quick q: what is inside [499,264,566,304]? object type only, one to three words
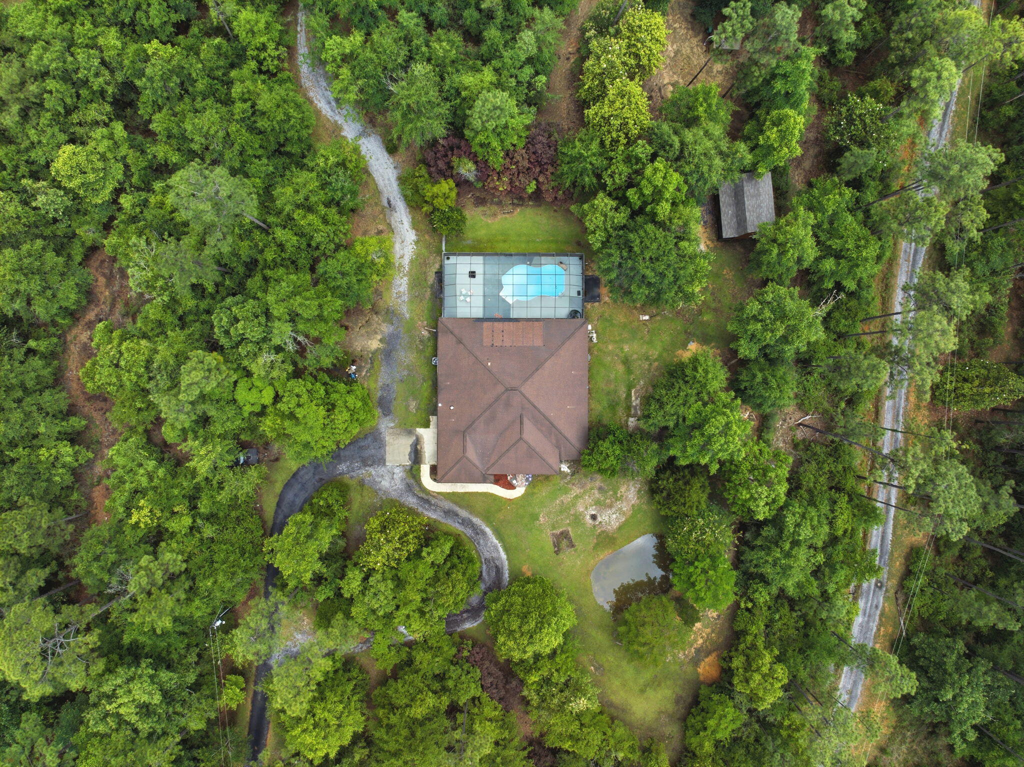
swimming pool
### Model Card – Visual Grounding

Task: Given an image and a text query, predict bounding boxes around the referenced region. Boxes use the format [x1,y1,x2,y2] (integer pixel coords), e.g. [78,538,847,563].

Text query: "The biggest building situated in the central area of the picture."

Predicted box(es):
[437,318,589,484]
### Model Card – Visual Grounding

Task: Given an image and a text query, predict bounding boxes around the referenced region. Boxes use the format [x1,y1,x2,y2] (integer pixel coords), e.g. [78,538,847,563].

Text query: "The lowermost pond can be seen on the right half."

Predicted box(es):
[589,532,678,614]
